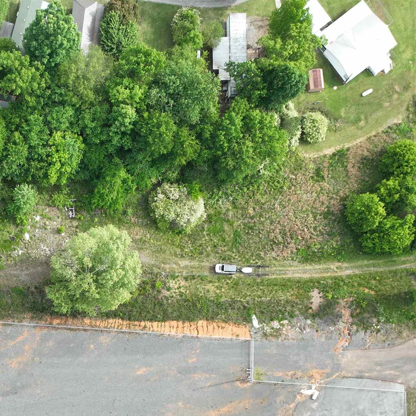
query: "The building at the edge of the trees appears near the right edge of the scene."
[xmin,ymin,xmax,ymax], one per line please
[316,0,397,87]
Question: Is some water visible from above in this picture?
No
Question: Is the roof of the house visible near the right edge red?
No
